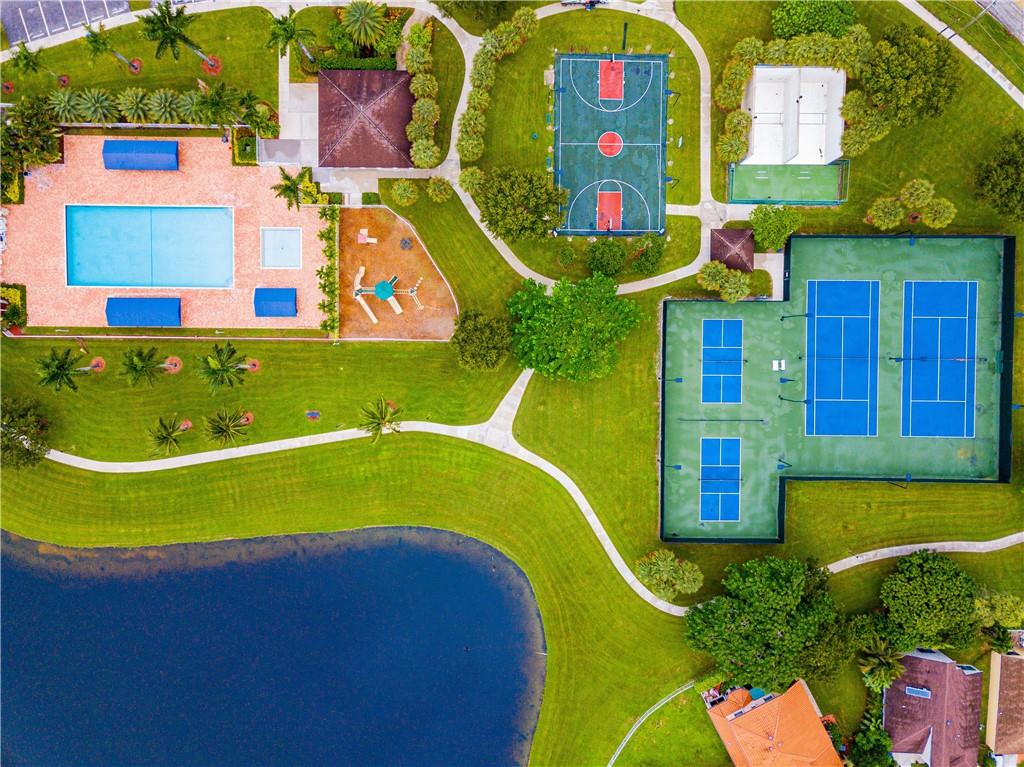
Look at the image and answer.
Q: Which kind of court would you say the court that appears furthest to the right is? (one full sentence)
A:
It turns out the court that appears furthest to the right is a tennis court.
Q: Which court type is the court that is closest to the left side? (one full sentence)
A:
What you see as the court that is closest to the left side is a basketball court.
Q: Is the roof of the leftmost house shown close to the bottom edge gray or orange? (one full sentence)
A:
In this view, the roof of the leftmost house shown close to the bottom edge is orange.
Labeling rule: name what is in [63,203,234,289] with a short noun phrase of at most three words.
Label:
swimming pool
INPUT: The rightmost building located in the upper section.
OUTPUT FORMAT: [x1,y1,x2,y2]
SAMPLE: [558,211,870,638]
[707,228,754,272]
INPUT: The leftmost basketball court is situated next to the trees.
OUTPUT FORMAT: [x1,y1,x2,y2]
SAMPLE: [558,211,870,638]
[554,53,669,235]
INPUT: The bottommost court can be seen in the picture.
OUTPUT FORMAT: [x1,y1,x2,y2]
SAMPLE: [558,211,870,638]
[697,438,744,522]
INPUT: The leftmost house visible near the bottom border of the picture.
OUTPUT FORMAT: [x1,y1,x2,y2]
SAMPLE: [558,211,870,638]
[707,673,844,767]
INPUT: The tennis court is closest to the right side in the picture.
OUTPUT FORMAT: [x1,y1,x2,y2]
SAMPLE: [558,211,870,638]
[890,280,991,438]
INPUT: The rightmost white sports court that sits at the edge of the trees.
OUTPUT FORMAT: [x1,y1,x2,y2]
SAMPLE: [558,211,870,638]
[735,66,845,202]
